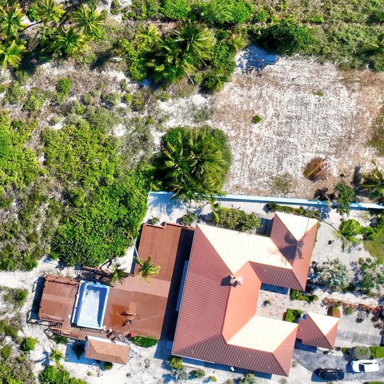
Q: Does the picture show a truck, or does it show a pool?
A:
pool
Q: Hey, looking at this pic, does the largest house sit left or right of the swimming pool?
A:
to the right of it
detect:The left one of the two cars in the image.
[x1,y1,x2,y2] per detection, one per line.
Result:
[320,369,347,384]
